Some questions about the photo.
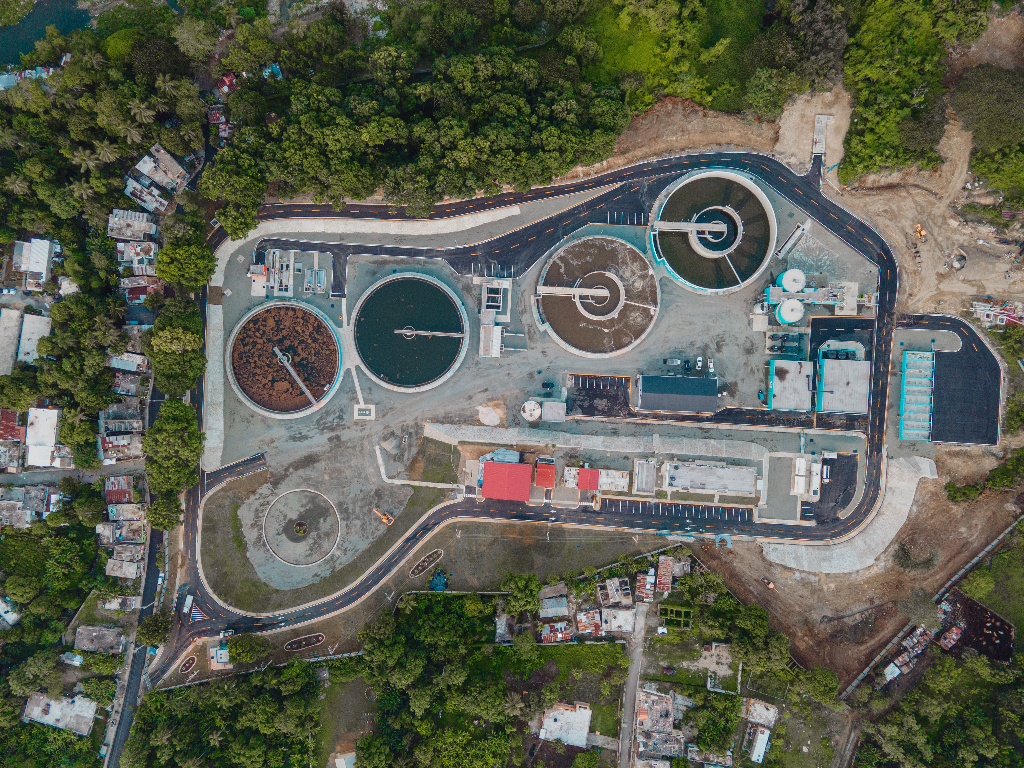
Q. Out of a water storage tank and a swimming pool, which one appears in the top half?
water storage tank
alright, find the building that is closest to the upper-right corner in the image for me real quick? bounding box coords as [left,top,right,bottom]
[758,284,846,306]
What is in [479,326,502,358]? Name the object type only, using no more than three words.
building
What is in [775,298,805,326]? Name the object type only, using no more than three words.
storage tank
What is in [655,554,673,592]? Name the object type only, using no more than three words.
house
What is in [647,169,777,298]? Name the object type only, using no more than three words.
water tank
